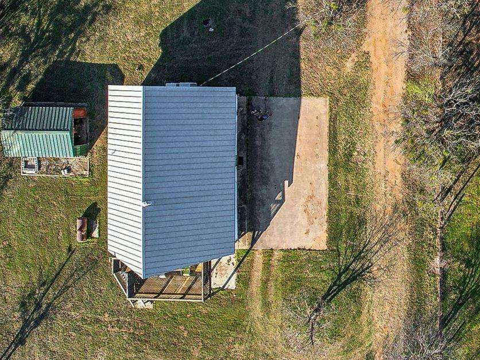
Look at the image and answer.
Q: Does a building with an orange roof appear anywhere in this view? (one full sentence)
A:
No, no building with an orange roof can be seen from above.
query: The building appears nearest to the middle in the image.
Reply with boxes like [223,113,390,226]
[108,85,245,278]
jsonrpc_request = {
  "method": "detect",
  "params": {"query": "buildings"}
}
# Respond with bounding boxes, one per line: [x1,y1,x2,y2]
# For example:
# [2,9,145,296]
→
[1,102,100,158]
[108,85,245,278]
